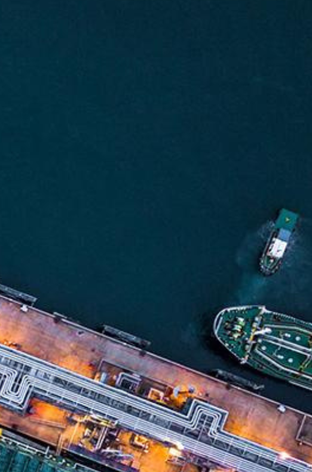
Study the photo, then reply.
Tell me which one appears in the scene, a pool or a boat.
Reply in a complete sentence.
Visible in the photo is a boat.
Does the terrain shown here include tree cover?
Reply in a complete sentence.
No, there is no tree cover in the image.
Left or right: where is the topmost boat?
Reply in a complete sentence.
It is on the right.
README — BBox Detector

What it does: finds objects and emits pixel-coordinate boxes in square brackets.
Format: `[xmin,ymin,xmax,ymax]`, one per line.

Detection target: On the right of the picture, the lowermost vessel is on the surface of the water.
[210,305,312,392]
